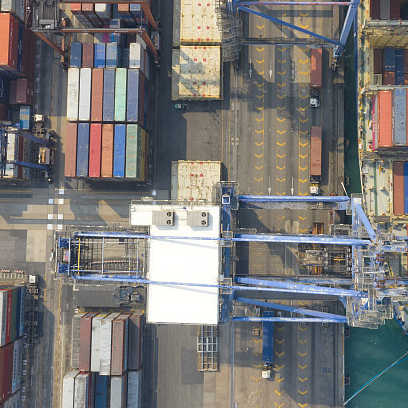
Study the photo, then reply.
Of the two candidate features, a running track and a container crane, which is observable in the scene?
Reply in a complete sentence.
This aerial view contains a container crane.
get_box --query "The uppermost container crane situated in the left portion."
[28,0,164,66]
